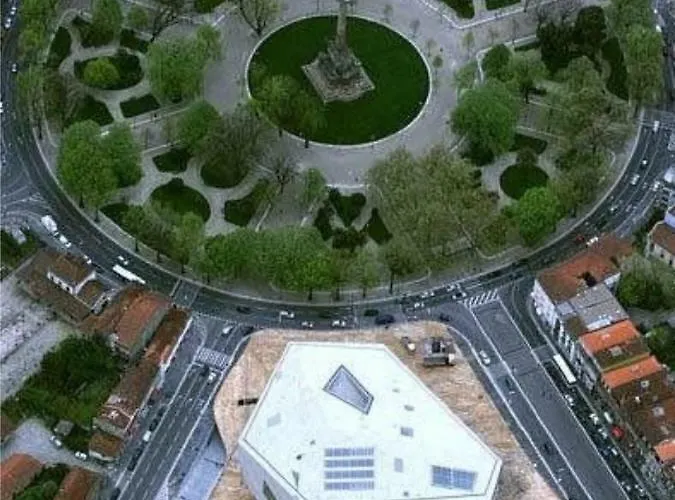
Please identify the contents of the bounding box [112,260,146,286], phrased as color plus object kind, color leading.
white bus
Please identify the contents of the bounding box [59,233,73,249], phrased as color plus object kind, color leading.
white vehicle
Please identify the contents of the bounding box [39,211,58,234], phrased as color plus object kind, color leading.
white vehicle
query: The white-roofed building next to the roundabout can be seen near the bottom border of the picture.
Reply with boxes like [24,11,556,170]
[240,340,502,500]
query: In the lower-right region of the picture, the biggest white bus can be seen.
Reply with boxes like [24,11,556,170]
[551,350,580,387]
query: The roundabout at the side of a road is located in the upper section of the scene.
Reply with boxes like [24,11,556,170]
[0,0,675,333]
